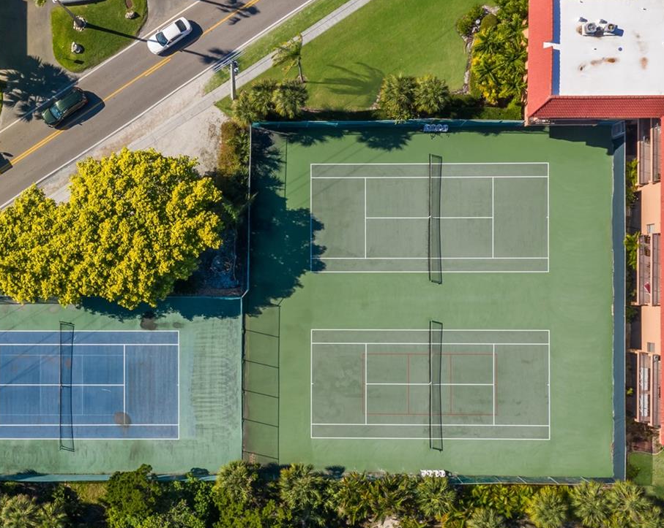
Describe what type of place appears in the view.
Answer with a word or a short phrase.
sports ground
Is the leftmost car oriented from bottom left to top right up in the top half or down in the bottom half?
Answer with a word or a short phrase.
top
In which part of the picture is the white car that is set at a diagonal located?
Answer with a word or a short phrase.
top left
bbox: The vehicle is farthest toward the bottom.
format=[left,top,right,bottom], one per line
[41,86,89,126]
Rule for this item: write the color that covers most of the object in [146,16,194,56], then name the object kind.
white car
